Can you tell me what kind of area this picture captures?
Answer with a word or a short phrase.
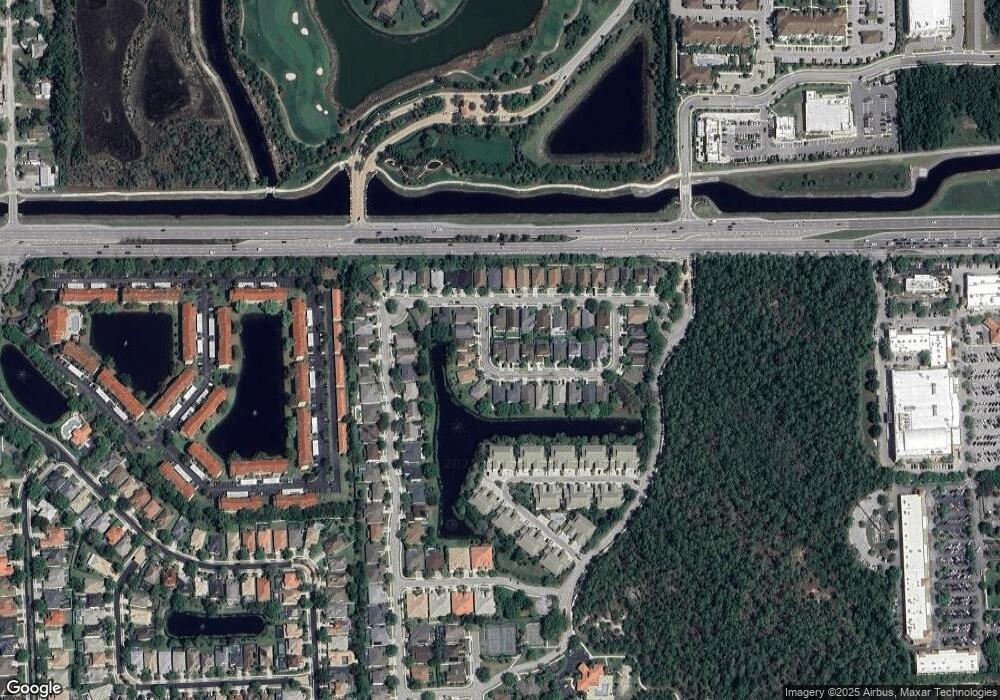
residential area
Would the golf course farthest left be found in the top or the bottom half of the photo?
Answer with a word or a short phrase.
top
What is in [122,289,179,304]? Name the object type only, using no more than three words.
building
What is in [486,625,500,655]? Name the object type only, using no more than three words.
tennis court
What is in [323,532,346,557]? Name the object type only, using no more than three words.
house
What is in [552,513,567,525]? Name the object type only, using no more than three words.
swimming pool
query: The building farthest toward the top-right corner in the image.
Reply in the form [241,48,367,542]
[908,0,951,38]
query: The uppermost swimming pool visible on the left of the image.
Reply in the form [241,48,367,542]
[63,309,83,341]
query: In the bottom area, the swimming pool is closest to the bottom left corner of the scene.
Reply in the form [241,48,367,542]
[62,416,82,440]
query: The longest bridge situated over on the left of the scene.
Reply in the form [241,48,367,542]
[351,172,366,223]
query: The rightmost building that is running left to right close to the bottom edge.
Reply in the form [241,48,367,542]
[917,649,978,673]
